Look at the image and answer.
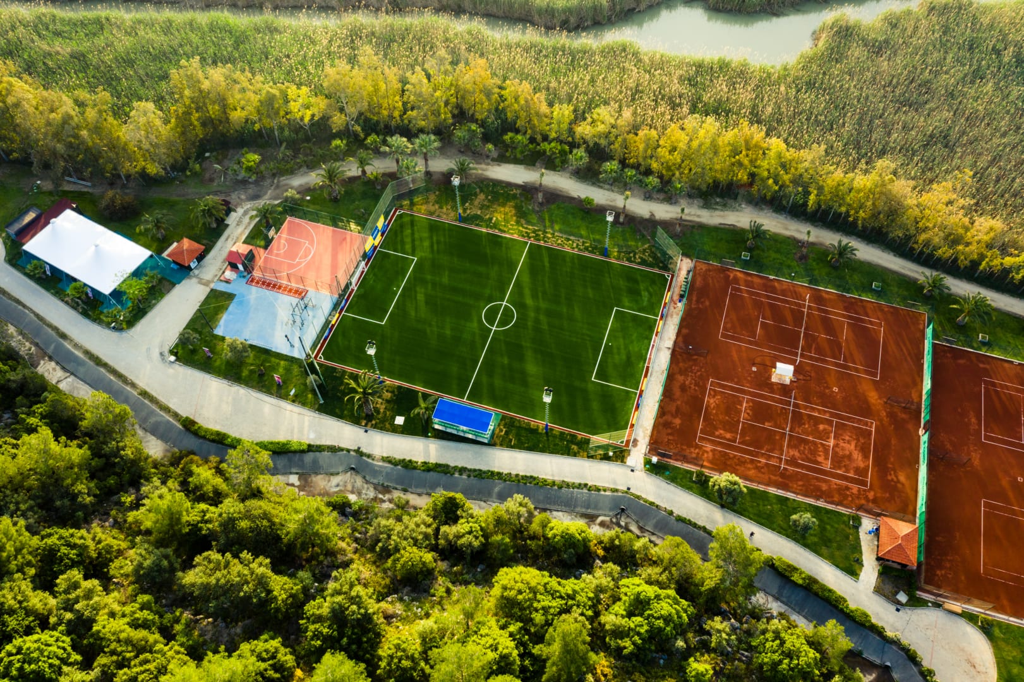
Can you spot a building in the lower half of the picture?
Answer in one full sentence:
Yes, looking in the lower half of the picture, one can make out a building.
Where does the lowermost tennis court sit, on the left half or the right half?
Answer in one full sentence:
It is on the right.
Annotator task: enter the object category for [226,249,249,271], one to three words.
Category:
shed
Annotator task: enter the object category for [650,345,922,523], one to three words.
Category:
tennis court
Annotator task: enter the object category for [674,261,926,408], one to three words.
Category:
tennis court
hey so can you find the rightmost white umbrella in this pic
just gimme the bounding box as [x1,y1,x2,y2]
[221,267,236,282]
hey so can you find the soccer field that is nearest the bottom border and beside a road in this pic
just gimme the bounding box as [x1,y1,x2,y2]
[306,204,680,452]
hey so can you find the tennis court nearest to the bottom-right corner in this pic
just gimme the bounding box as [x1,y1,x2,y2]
[922,457,1024,623]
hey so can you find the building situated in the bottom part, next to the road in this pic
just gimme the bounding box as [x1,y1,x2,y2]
[872,516,919,570]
